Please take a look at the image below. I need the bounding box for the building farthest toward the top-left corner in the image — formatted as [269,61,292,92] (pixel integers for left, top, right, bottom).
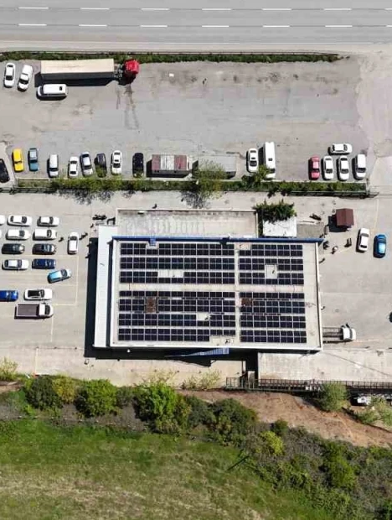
[152,154,190,175]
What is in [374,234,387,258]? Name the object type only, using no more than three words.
vehicle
